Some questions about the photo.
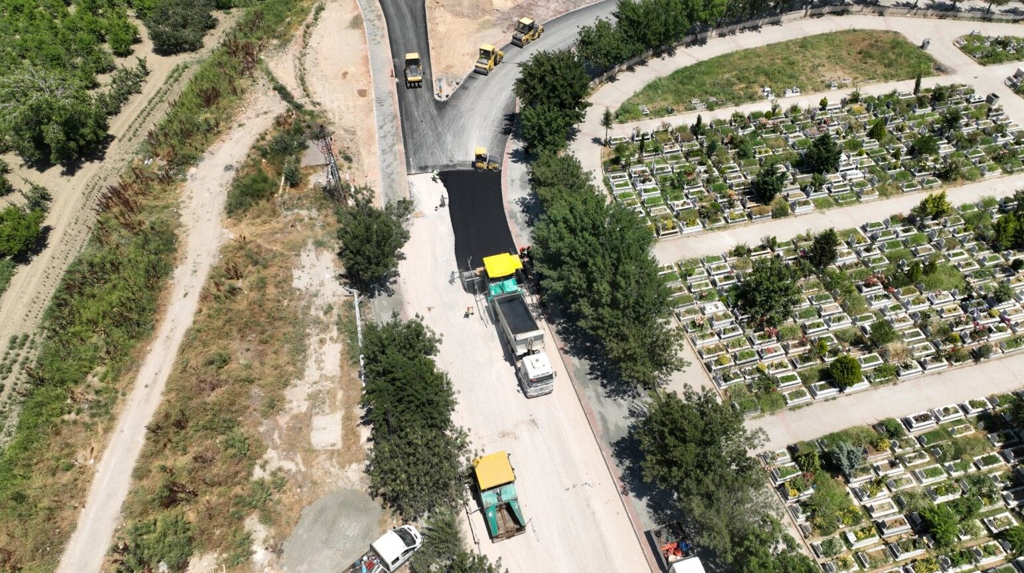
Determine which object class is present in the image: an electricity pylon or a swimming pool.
electricity pylon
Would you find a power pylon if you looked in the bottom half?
No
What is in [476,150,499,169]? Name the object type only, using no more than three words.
work vehicle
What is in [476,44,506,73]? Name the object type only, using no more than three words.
work vehicle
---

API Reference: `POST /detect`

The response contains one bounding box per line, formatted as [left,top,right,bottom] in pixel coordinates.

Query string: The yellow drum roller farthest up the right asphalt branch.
[514,16,543,44]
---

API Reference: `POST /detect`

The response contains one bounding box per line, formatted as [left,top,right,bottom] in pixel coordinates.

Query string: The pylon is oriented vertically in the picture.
[309,122,344,203]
